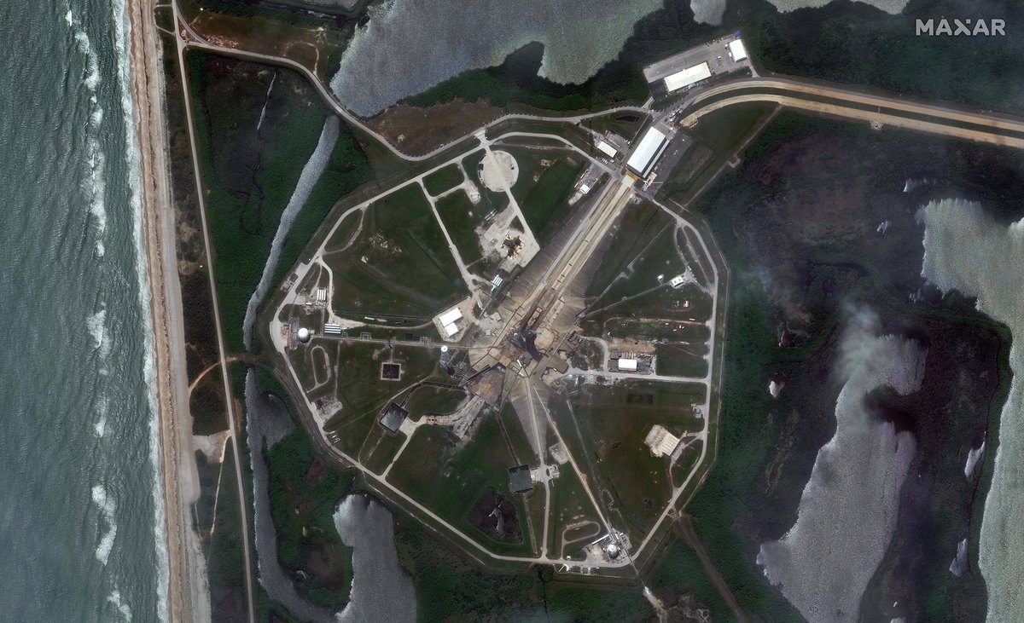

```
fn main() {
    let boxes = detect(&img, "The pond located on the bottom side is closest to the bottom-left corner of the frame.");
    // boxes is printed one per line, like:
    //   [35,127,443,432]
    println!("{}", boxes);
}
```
[468,485,523,544]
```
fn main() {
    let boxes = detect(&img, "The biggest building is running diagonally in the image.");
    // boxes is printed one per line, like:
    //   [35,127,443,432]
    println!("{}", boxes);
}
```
[627,126,669,178]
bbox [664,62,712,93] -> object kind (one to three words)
shed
